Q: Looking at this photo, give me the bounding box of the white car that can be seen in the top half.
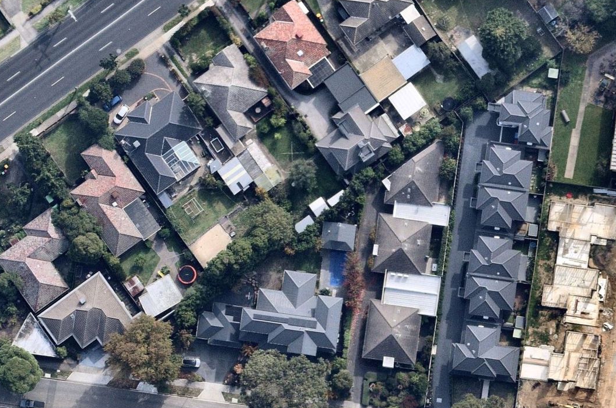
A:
[113,103,130,126]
